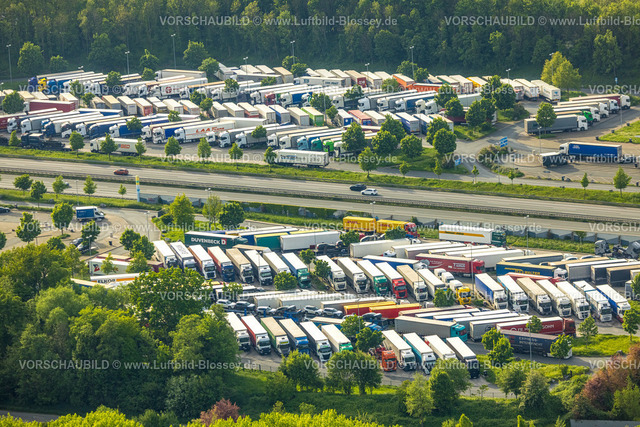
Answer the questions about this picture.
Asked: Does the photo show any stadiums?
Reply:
No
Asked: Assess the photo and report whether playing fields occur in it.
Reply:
No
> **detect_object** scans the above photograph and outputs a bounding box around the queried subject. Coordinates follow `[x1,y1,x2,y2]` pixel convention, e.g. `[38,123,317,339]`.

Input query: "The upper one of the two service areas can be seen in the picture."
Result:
[0,78,640,191]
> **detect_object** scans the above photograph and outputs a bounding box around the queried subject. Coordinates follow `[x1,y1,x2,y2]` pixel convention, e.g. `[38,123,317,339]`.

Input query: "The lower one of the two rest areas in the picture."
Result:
[0,199,640,391]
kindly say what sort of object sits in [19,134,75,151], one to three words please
vehicle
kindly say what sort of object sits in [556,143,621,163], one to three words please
vehicle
